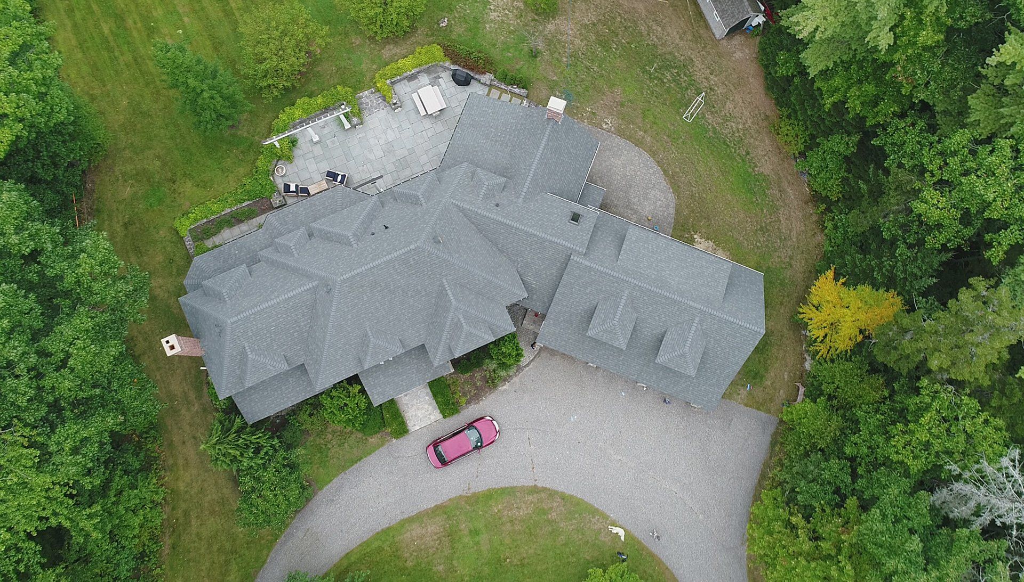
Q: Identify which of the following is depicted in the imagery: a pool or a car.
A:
car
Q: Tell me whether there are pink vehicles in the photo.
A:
Yes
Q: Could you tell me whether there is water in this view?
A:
No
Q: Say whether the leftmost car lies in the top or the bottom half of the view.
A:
bottom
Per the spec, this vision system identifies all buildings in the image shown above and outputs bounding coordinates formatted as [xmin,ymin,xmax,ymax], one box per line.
[686,0,765,46]
[161,93,765,424]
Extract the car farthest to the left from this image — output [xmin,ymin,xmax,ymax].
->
[425,419,501,468]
